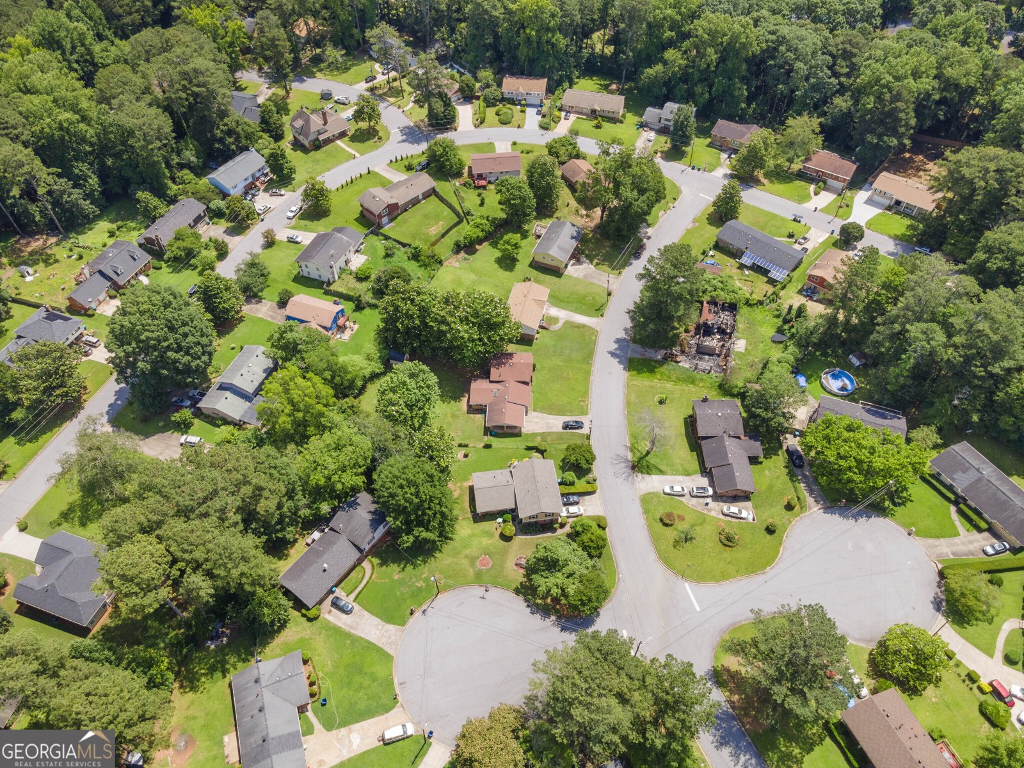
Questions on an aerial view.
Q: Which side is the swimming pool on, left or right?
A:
right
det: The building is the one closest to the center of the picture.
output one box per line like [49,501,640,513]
[470,352,534,434]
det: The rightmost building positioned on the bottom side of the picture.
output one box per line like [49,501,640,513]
[928,441,1024,554]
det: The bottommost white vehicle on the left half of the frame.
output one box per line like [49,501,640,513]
[376,720,417,746]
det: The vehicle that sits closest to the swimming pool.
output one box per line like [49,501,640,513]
[786,446,805,468]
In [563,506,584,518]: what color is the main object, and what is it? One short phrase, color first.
white vehicle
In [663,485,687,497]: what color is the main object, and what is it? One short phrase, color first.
white vehicle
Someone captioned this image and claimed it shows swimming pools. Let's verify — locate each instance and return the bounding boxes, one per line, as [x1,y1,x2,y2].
[823,368,856,395]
